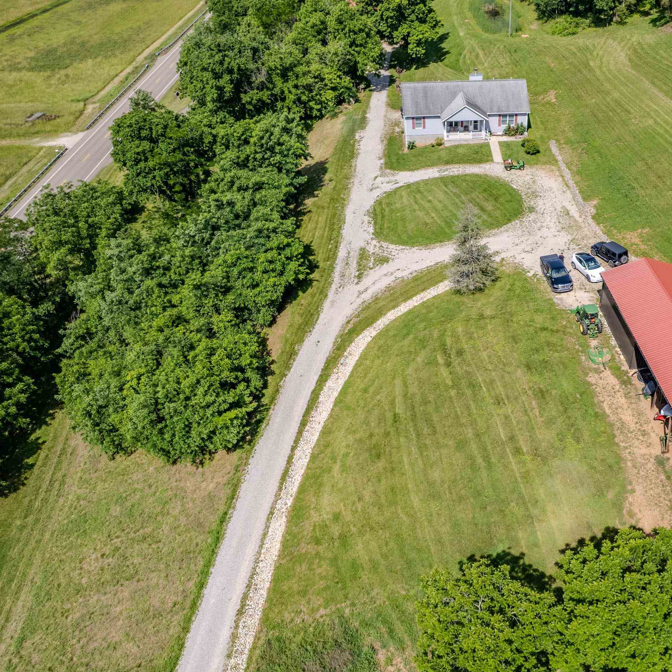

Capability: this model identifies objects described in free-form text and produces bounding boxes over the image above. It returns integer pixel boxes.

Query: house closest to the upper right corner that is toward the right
[402,64,529,148]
